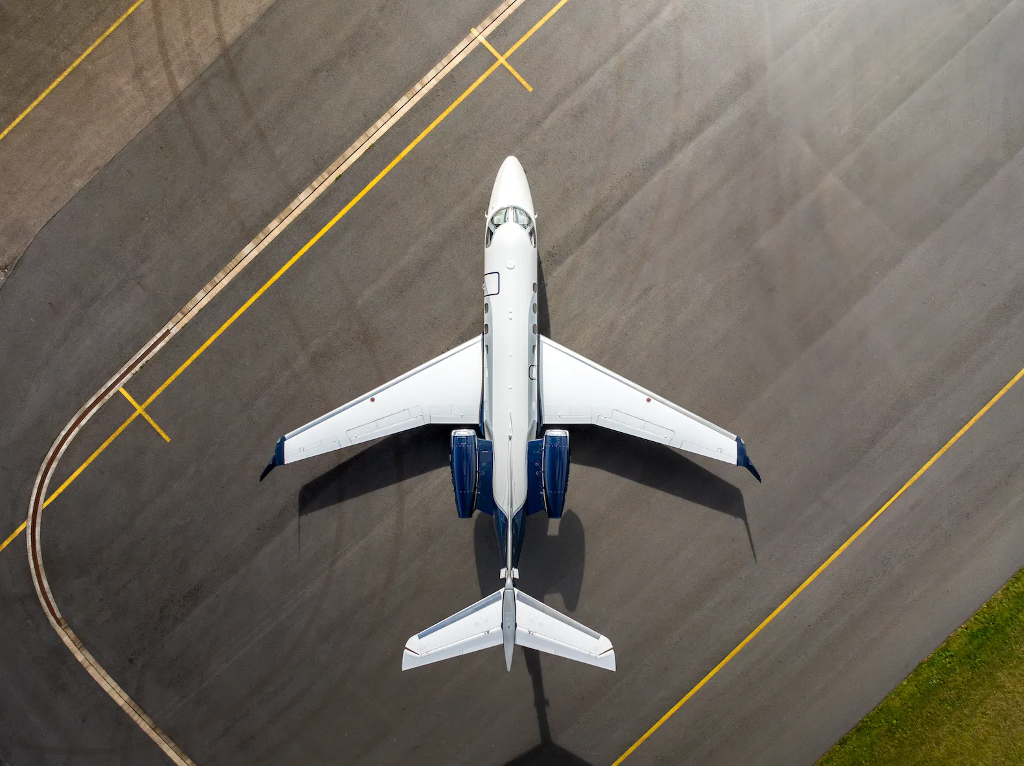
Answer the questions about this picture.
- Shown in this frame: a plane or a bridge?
plane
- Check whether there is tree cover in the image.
No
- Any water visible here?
No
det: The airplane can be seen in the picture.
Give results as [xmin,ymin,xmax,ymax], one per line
[259,156,761,672]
